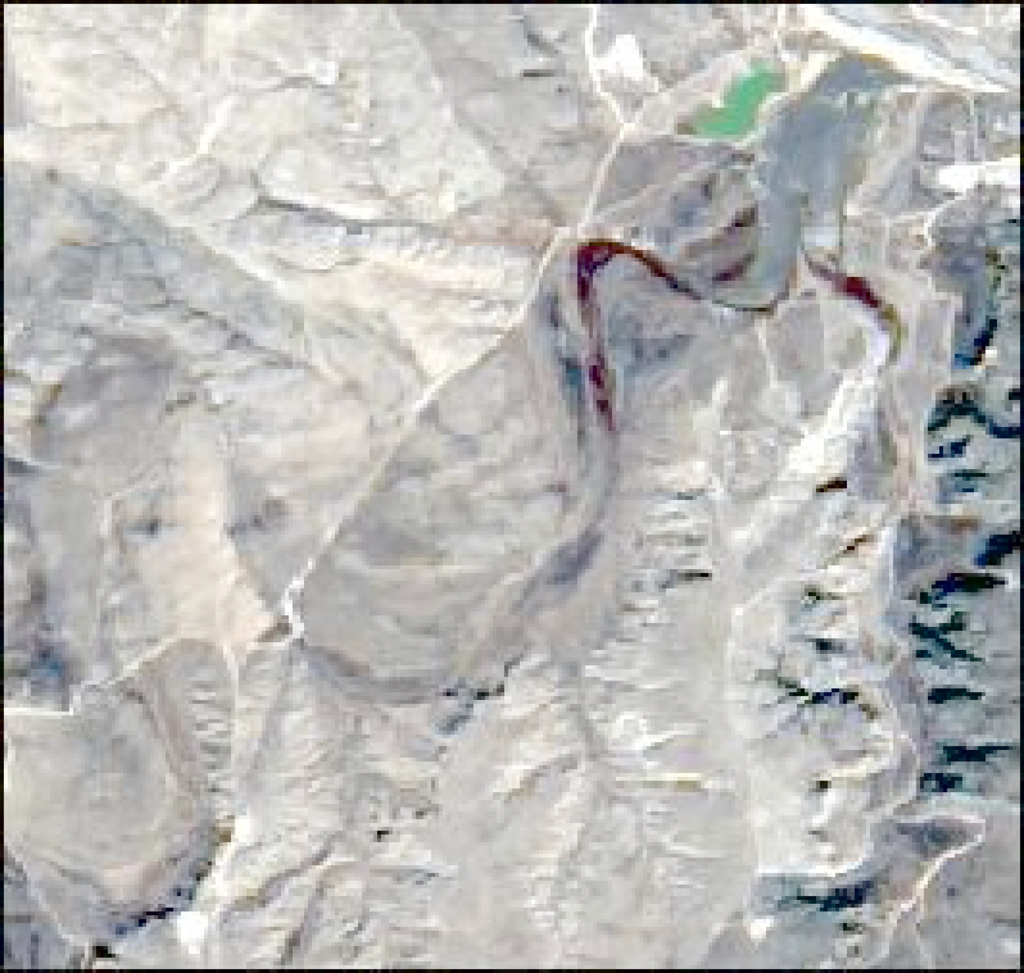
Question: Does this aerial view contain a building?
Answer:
No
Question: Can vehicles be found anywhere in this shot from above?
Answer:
No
